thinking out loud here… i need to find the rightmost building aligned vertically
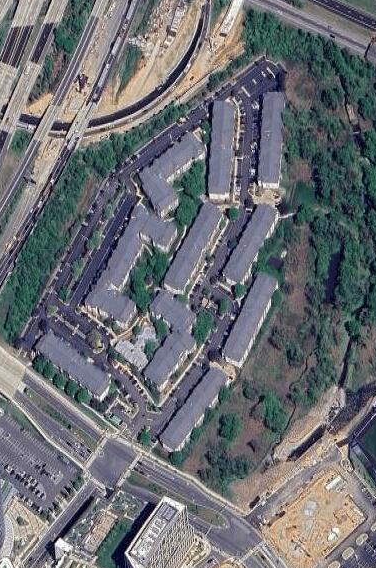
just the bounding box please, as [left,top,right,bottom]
[257,92,285,189]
